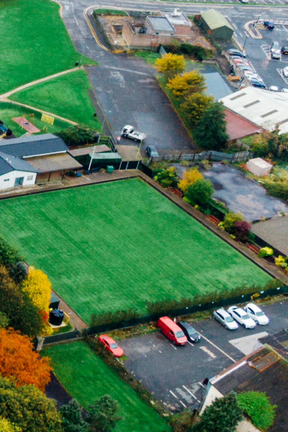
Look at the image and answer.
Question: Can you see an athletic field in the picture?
No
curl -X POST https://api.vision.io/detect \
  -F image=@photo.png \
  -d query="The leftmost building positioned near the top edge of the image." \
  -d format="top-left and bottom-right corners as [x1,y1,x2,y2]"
[114,5,193,50]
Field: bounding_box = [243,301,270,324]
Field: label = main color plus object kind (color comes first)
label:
white car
